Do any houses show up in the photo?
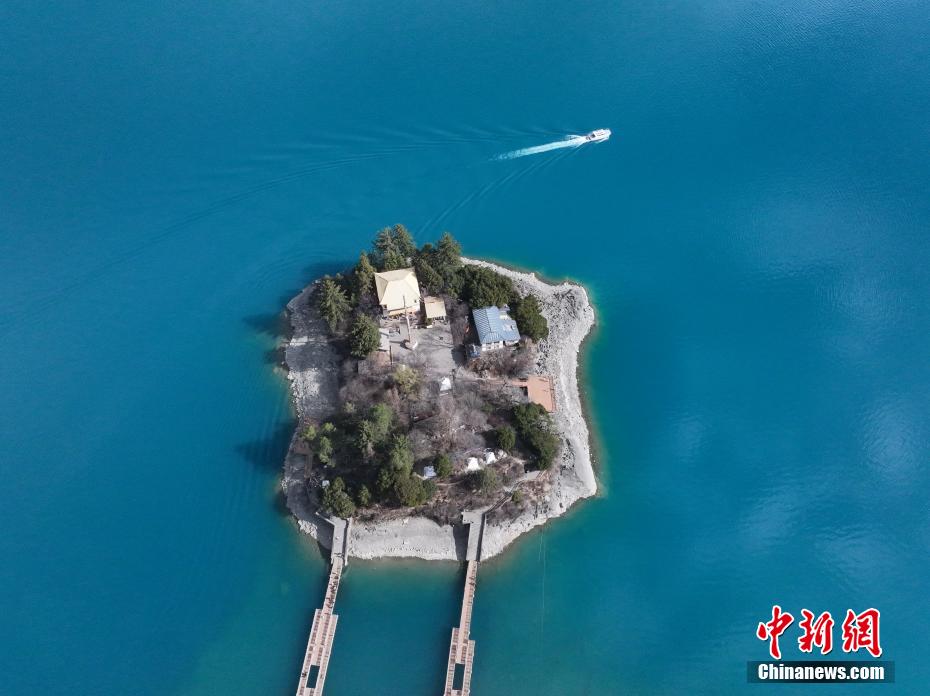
Yes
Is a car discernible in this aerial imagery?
No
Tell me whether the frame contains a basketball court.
No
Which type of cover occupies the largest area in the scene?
water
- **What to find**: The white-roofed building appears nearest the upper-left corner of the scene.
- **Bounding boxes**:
[376,267,421,323]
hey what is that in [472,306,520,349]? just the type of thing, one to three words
house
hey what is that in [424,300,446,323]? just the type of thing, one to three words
building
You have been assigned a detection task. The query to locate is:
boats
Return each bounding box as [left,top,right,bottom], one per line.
[584,129,612,143]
